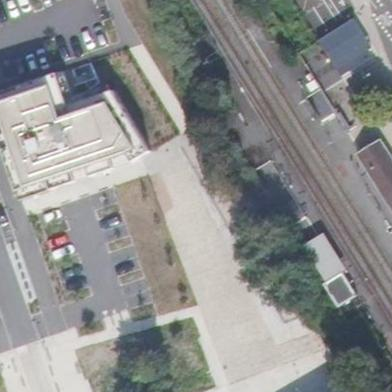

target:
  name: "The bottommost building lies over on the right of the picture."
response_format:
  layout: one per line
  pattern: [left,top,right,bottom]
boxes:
[322,272,357,308]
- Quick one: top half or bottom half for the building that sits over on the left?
top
